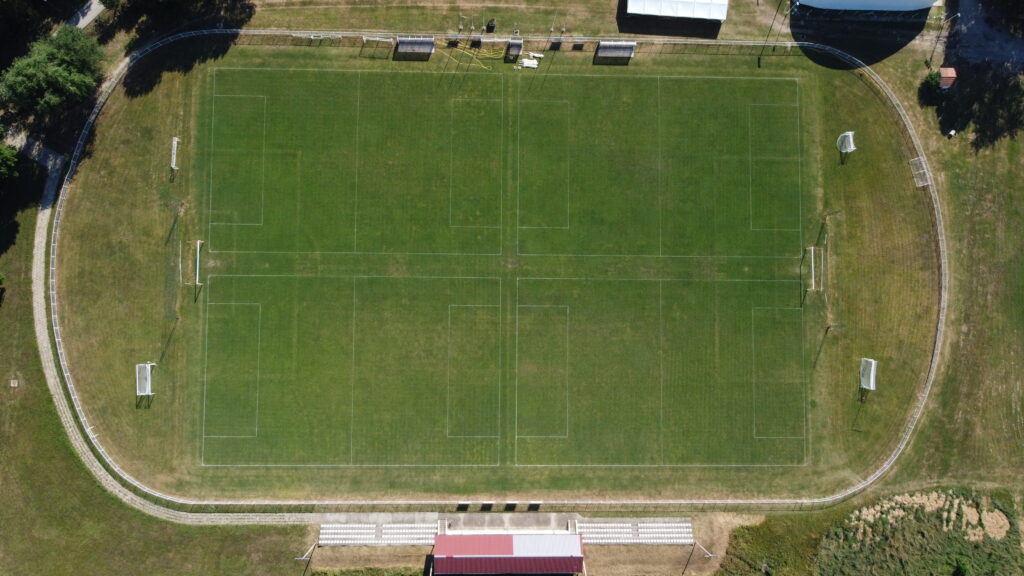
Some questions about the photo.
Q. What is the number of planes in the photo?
zero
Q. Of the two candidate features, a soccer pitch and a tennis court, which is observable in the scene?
soccer pitch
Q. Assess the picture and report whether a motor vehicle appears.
No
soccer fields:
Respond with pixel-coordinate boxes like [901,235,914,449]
[516,278,805,466]
[202,275,501,466]
[518,74,802,257]
[209,68,502,255]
